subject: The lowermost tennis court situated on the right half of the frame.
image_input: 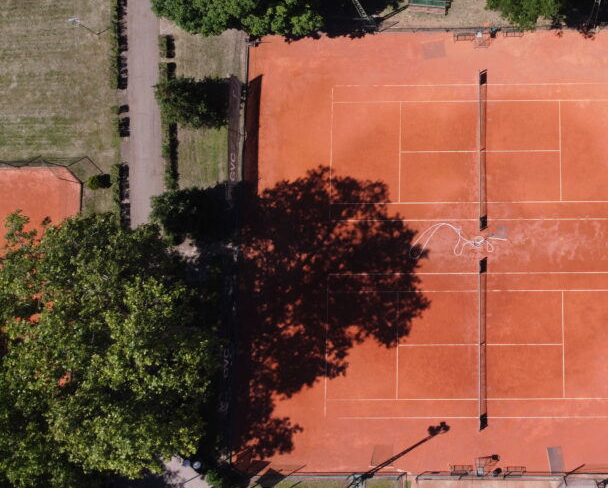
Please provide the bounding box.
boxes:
[234,245,608,477]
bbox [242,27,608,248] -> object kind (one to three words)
tennis court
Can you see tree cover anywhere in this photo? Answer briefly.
Yes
